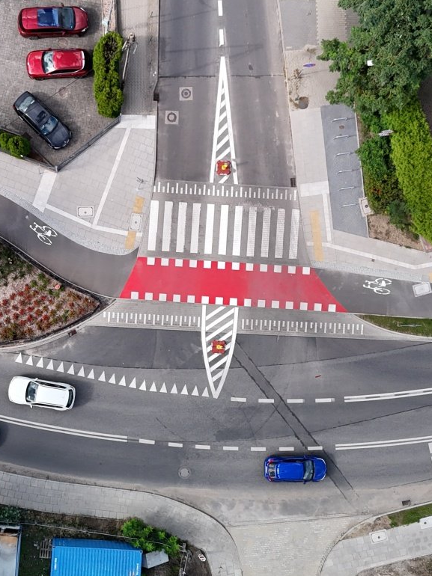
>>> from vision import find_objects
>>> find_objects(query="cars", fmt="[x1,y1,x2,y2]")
[7,374,77,410]
[11,86,74,153]
[262,452,327,486]
[18,2,88,40]
[25,44,90,82]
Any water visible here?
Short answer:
No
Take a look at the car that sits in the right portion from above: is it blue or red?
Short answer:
blue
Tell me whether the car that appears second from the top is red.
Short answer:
Yes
